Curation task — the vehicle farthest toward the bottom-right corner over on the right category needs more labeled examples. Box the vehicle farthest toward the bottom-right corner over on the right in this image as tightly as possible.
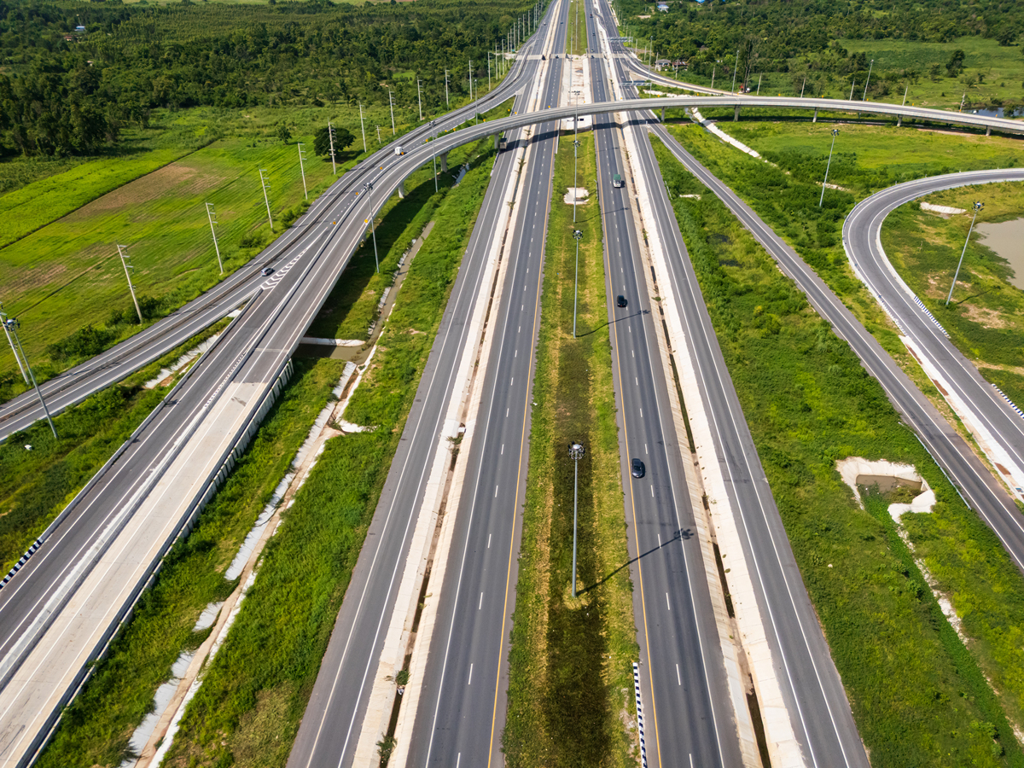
[633,456,646,475]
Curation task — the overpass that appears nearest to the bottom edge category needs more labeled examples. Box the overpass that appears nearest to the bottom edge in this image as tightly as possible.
[224,96,1024,388]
